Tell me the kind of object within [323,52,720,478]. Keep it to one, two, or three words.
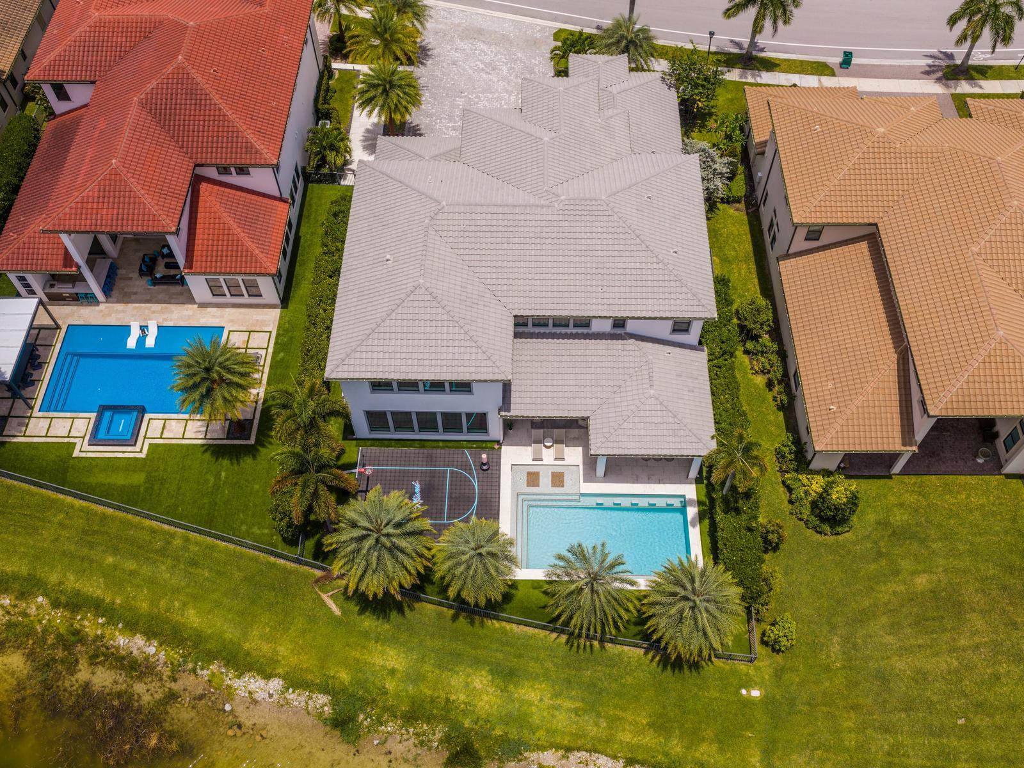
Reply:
house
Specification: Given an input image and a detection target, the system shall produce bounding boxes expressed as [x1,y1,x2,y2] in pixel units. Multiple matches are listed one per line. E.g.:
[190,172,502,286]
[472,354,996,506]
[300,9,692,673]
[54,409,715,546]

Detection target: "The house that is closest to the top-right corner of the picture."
[744,85,1024,474]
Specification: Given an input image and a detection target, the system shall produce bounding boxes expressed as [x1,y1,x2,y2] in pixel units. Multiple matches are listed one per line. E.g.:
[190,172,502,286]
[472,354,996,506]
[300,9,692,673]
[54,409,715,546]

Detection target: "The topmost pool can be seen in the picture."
[38,324,227,414]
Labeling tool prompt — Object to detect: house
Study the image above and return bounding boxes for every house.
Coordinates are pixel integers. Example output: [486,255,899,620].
[0,0,335,305]
[744,85,1024,474]
[323,52,720,478]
